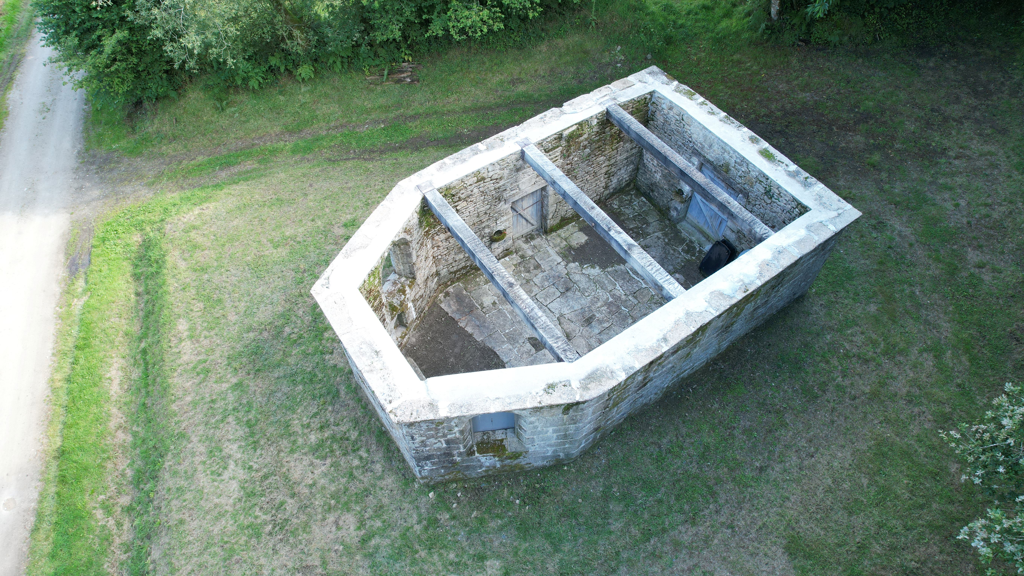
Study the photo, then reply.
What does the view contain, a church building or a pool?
church building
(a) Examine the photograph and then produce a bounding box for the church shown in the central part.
[310,68,860,486]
